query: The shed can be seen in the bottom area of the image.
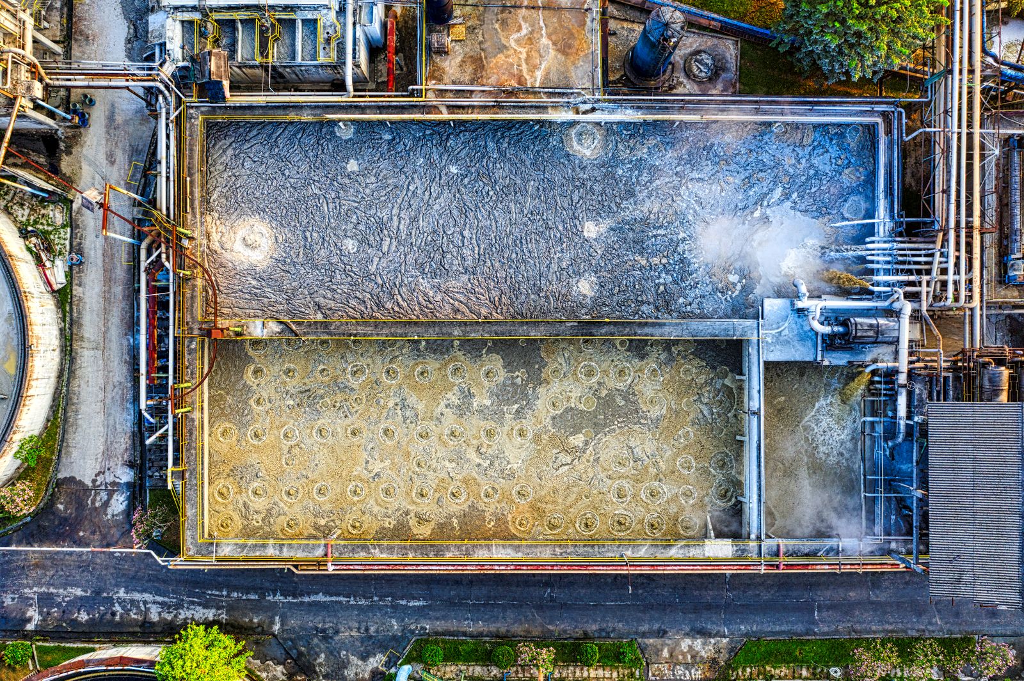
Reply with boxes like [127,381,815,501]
[886,400,1024,612]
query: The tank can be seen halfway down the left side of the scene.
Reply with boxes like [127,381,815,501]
[0,210,61,487]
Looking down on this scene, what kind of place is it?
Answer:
industrial area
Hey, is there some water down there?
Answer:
Yes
